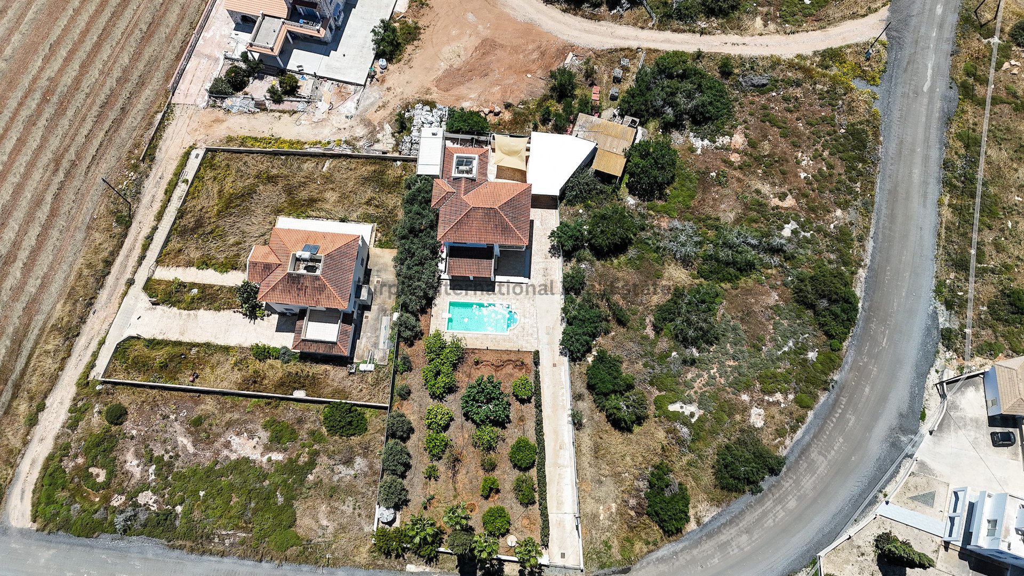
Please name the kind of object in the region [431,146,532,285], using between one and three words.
building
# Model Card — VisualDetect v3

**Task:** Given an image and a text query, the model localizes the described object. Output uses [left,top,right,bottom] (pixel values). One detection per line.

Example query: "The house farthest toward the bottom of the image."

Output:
[962,491,1024,571]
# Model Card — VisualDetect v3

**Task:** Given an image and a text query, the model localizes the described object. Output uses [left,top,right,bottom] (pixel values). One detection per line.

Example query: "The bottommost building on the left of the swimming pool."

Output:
[245,216,378,357]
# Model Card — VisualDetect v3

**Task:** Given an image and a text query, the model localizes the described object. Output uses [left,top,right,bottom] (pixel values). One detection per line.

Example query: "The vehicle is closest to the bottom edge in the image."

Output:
[988,431,1017,446]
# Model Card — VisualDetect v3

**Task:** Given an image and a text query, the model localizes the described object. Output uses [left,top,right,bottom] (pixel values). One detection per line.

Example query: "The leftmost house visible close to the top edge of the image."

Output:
[223,0,351,69]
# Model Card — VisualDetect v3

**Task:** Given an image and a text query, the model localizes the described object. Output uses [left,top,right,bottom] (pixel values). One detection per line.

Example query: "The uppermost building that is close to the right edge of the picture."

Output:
[984,364,1024,420]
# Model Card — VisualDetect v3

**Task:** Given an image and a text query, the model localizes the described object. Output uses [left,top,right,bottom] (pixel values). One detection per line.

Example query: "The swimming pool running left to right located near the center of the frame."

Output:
[442,301,520,334]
